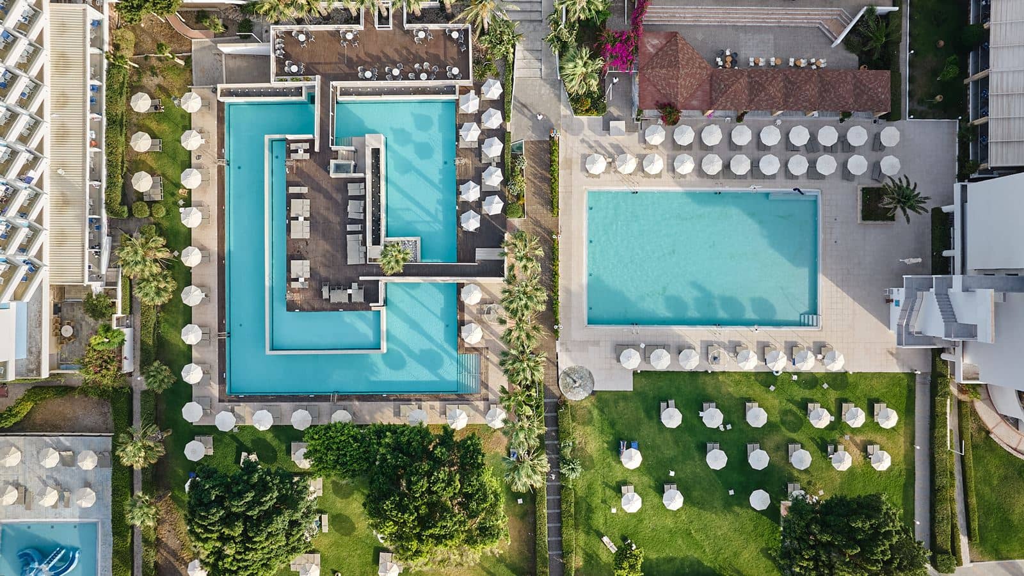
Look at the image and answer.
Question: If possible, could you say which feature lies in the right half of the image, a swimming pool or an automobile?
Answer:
swimming pool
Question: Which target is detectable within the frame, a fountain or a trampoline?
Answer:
fountain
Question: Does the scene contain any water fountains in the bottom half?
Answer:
Yes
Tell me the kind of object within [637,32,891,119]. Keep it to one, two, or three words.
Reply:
building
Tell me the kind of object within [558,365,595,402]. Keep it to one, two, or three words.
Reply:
fountain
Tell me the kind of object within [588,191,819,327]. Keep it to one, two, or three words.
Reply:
swimming pool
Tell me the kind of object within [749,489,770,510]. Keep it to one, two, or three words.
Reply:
umbrella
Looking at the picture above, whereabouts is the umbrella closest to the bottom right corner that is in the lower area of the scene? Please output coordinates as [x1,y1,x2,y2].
[869,450,891,471]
